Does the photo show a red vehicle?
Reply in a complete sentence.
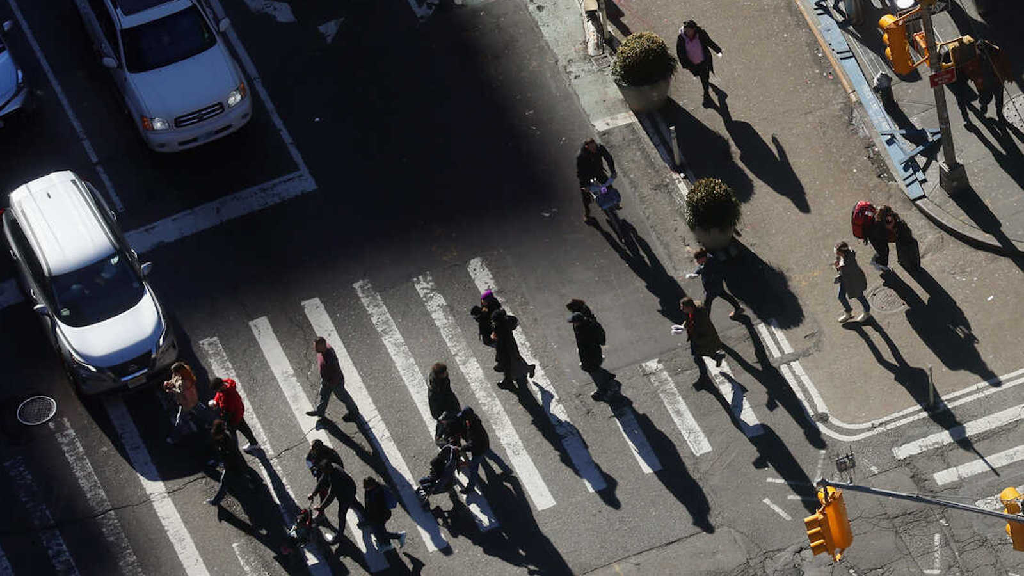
No, there is no red vehicle in the image.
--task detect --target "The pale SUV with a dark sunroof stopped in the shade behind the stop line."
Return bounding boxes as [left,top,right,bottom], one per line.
[62,0,245,164]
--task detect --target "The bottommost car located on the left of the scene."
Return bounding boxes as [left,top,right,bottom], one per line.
[0,177,176,402]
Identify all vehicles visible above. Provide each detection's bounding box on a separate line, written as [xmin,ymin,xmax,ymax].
[62,0,245,164]
[0,177,176,402]
[0,29,34,133]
